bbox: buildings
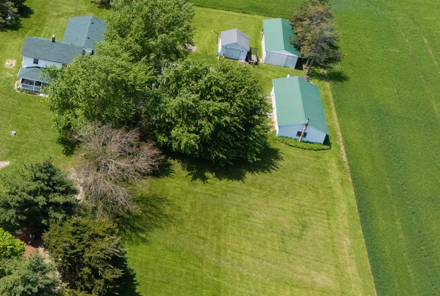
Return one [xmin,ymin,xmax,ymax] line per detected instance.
[218,28,250,57]
[272,77,329,143]
[261,18,307,68]
[16,14,113,94]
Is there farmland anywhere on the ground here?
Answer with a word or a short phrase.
Yes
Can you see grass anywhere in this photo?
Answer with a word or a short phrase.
Yes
